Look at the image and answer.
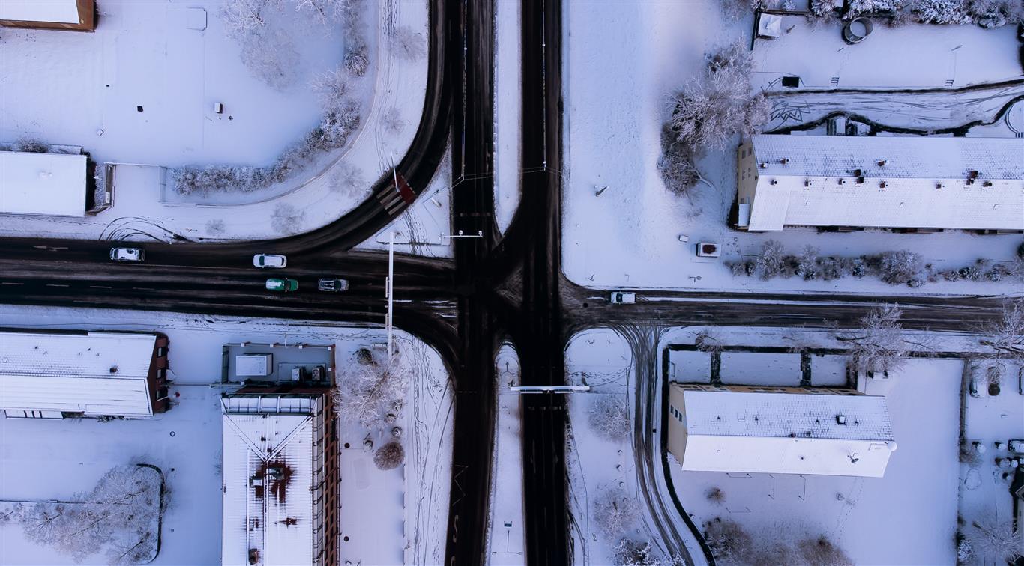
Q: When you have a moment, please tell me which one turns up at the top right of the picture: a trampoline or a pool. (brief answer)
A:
trampoline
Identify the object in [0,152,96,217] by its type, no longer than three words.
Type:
building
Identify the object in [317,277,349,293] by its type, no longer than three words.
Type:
car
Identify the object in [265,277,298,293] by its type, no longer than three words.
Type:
car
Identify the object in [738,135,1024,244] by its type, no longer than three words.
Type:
house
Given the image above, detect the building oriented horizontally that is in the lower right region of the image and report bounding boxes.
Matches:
[669,384,897,475]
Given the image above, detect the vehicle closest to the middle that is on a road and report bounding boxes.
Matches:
[609,290,636,306]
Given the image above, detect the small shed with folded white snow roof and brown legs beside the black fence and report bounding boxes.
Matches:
[759,12,784,38]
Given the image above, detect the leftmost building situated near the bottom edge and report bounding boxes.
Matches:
[217,384,339,566]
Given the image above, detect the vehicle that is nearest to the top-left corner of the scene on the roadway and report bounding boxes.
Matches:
[110,246,144,263]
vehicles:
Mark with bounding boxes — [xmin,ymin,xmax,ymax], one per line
[986,371,1004,401]
[609,290,636,306]
[317,277,349,293]
[969,369,984,398]
[110,246,144,263]
[265,277,298,293]
[1003,440,1024,454]
[253,253,287,269]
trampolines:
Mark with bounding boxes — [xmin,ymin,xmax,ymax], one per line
[841,14,873,42]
